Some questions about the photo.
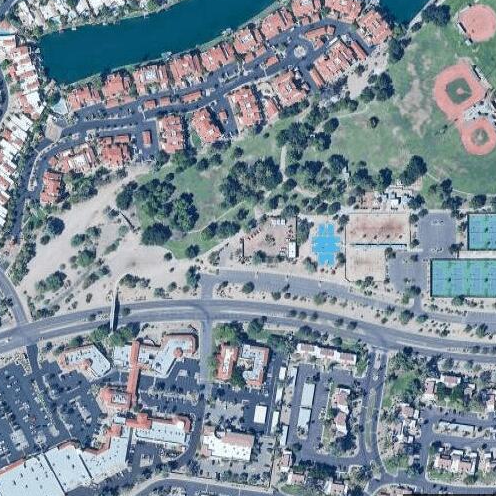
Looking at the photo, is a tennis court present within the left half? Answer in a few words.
No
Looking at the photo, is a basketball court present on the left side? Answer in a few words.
No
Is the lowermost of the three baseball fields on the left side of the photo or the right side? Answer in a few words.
right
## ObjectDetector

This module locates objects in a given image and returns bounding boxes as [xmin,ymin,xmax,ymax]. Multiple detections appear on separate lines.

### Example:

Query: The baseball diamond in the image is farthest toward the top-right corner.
[458,4,496,45]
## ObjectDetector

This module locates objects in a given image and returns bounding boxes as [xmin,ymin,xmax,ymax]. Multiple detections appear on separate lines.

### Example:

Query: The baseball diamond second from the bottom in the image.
[434,63,488,122]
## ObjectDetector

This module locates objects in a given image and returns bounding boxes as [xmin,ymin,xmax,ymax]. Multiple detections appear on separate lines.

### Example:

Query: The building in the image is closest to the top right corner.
[353,5,394,48]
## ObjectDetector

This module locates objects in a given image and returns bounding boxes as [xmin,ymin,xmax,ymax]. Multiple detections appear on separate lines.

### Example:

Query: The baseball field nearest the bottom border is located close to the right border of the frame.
[461,117,496,154]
